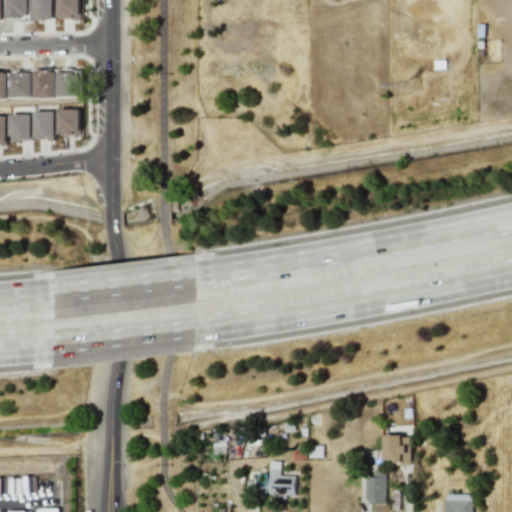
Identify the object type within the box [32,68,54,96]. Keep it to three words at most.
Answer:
house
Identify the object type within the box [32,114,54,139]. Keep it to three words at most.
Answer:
house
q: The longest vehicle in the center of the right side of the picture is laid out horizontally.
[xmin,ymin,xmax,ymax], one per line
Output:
[386,298,430,312]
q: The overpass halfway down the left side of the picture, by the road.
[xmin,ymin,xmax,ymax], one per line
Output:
[48,250,202,370]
